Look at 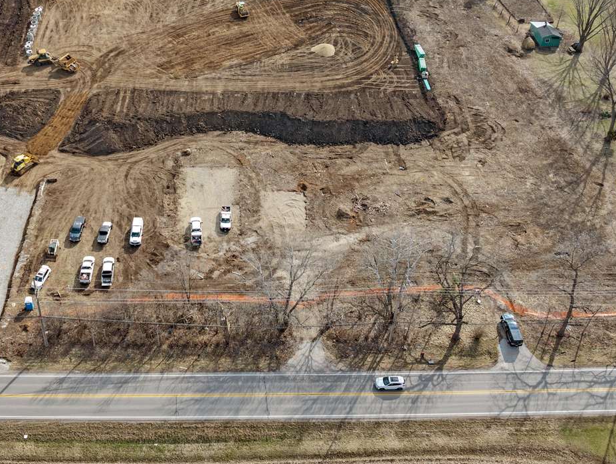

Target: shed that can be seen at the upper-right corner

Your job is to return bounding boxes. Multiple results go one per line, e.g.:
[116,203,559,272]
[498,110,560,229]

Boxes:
[534,16,563,48]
